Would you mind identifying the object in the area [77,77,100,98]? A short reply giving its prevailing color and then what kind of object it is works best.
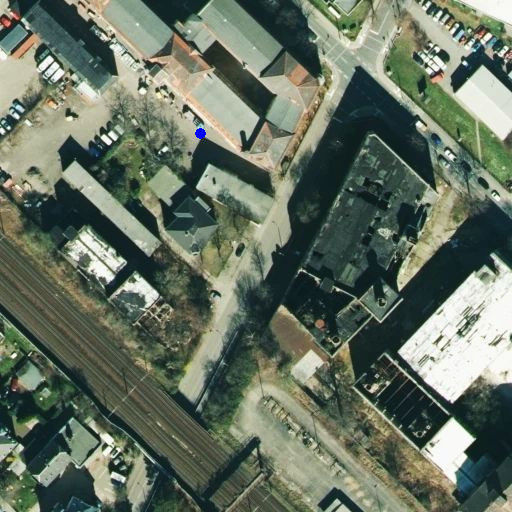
white truck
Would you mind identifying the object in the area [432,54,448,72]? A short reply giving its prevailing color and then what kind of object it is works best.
white vehicle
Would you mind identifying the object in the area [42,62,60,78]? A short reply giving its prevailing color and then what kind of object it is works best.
white vehicle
